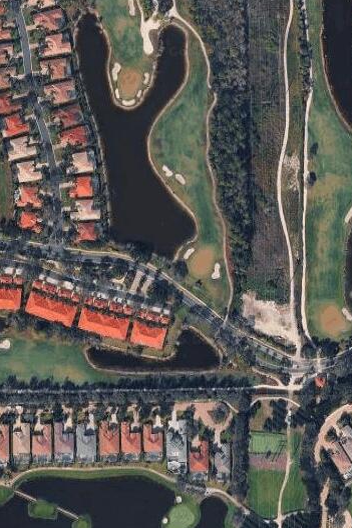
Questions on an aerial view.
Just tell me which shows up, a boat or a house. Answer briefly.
house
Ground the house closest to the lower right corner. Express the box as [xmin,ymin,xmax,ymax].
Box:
[331,441,352,478]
